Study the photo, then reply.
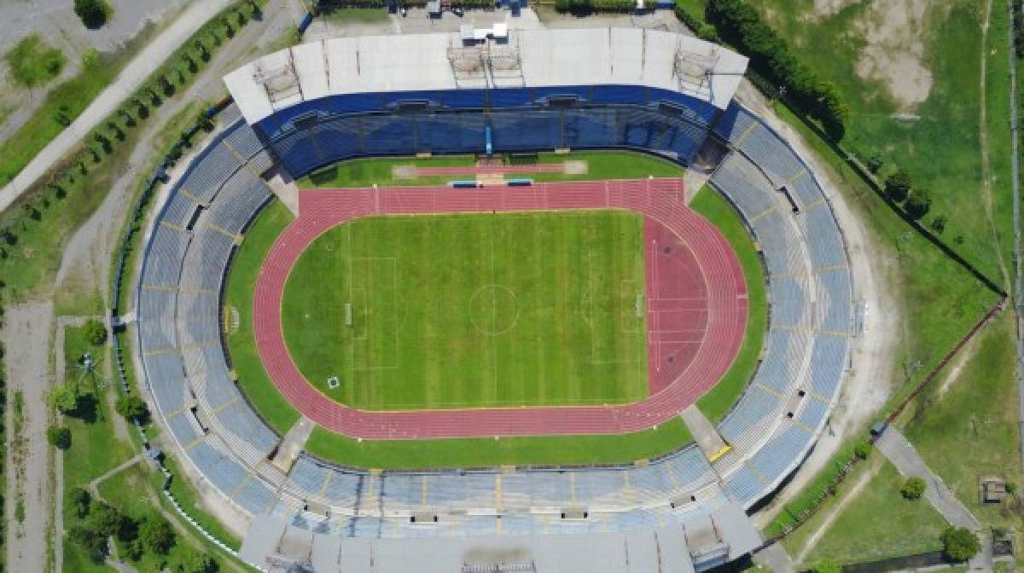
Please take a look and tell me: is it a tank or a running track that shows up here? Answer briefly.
running track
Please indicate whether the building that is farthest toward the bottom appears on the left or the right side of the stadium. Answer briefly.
right of it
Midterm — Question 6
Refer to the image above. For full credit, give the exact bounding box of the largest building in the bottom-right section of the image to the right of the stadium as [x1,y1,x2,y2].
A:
[990,530,1018,557]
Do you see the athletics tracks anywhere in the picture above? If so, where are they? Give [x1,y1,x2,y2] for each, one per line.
[253,178,749,440]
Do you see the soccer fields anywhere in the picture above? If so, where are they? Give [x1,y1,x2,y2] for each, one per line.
[348,210,645,409]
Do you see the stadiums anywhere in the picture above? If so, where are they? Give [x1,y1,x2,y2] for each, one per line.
[135,22,867,573]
